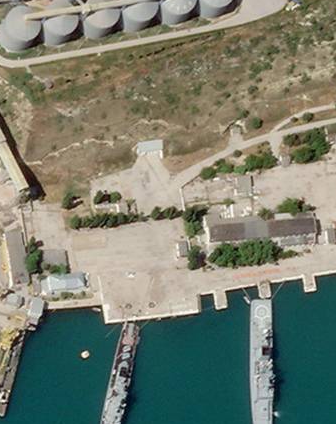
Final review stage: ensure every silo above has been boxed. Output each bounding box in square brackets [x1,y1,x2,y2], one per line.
[36,0,80,48]
[113,0,158,35]
[75,0,120,42]
[191,0,233,22]
[0,5,42,55]
[152,0,197,28]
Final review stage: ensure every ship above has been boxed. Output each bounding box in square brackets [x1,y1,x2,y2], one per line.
[104,322,138,424]
[250,298,273,424]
